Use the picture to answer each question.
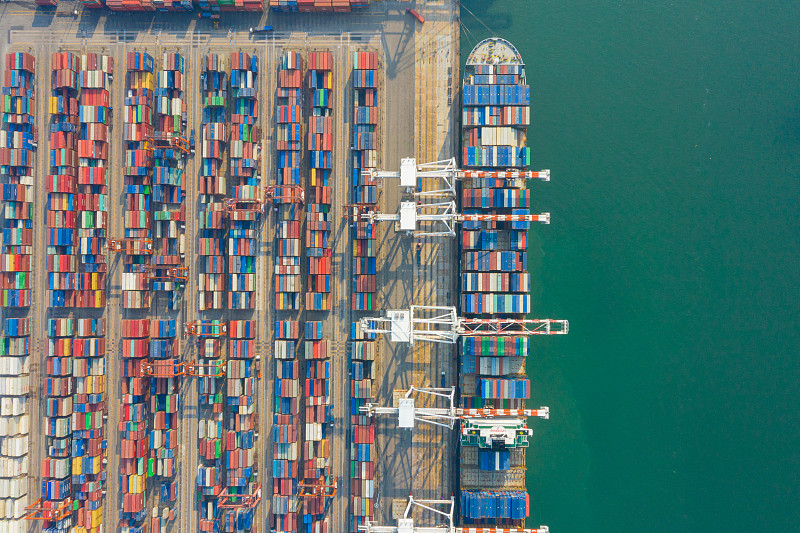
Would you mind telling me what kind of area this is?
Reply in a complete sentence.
The picture captures a port.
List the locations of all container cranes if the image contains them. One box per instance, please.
[107,238,153,253]
[24,498,73,520]
[298,474,338,497]
[359,299,570,345]
[184,320,227,336]
[363,488,550,533]
[363,153,550,200]
[264,184,305,202]
[363,199,550,242]
[363,377,550,431]
[145,265,189,280]
[342,204,380,220]
[145,136,189,154]
[220,485,262,507]
[224,199,266,215]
